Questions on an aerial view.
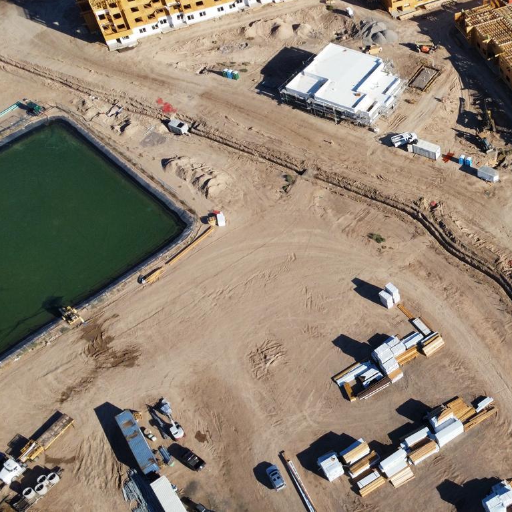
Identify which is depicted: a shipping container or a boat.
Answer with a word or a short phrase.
shipping container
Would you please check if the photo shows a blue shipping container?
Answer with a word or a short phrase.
Yes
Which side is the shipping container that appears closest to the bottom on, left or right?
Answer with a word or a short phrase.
left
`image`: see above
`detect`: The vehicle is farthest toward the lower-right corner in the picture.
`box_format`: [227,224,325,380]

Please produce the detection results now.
[263,463,290,494]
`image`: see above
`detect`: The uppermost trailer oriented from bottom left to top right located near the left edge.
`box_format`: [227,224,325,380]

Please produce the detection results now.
[17,413,77,468]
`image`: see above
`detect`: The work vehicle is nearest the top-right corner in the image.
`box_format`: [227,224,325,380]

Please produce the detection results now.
[405,39,438,56]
